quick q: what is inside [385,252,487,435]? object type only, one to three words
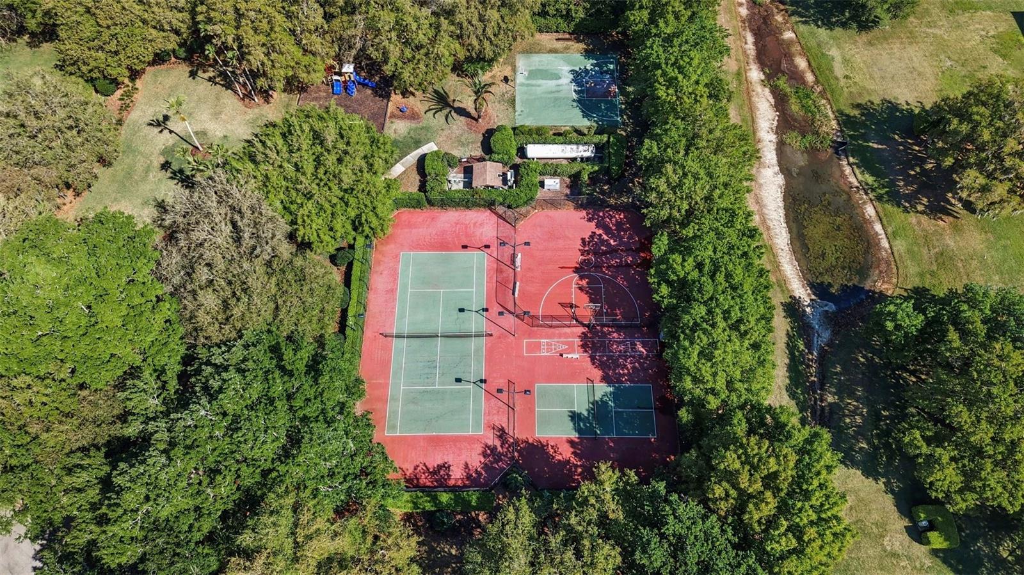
tennis court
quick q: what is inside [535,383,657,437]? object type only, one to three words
sports court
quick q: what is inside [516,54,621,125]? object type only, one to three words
basketball court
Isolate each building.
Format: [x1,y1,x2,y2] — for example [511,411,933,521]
[474,162,501,188]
